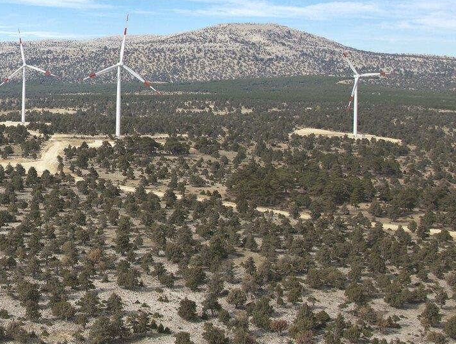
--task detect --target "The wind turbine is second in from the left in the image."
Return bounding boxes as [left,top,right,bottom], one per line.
[80,18,157,138]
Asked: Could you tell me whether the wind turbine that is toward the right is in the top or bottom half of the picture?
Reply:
top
